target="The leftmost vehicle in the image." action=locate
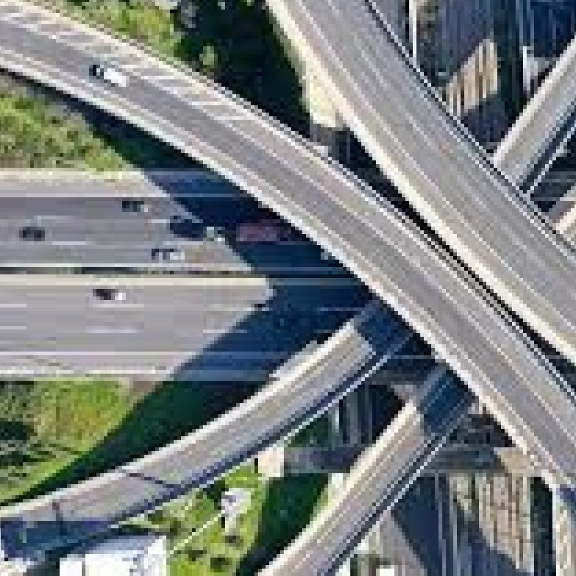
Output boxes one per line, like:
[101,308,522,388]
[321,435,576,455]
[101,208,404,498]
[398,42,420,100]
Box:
[19,224,49,241]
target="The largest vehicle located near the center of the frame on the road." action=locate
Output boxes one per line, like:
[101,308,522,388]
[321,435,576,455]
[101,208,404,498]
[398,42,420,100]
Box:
[210,222,300,245]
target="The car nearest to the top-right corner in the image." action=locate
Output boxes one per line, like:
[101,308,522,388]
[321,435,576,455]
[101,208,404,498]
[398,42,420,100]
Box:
[304,245,335,261]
